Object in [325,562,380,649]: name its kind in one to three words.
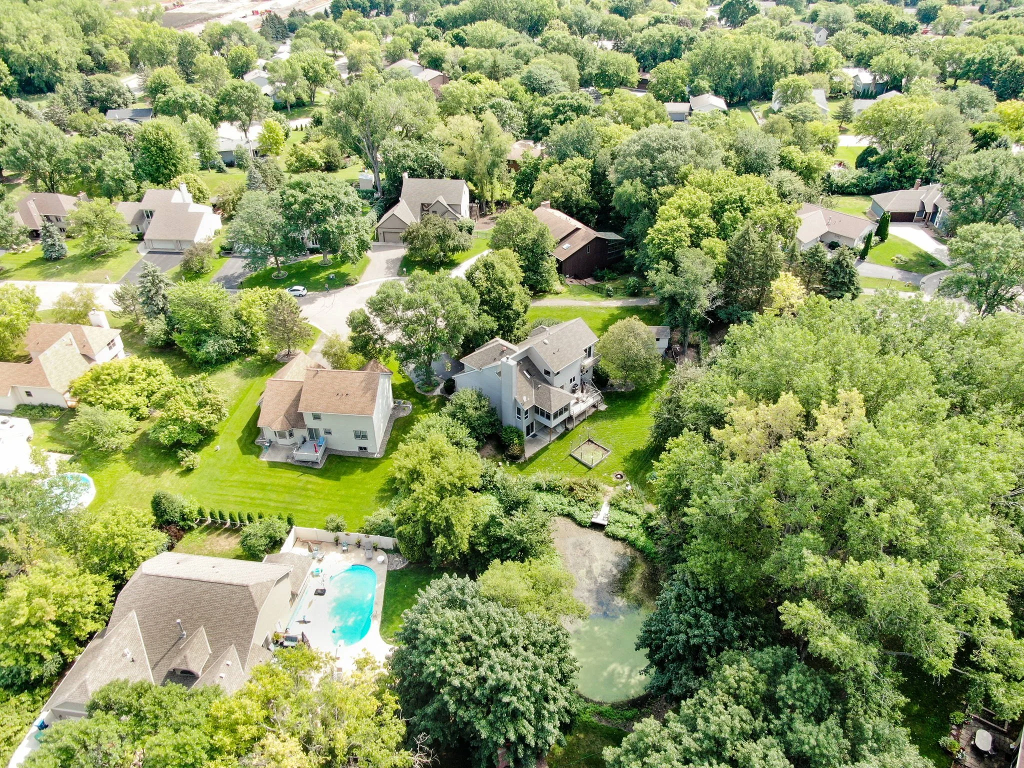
swimming pool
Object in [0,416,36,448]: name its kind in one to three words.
vehicle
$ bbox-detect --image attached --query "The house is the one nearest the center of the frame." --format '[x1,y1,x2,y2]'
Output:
[454,313,617,444]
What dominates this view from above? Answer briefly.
trees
